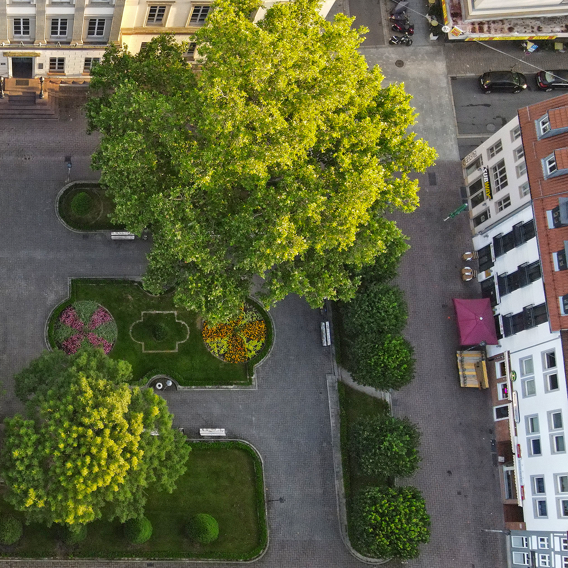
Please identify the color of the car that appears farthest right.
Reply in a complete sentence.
From above, the car that appears farthest right appears black.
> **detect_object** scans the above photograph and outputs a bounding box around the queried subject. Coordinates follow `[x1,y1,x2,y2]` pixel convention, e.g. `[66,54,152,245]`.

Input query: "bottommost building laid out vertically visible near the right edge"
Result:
[483,330,568,529]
